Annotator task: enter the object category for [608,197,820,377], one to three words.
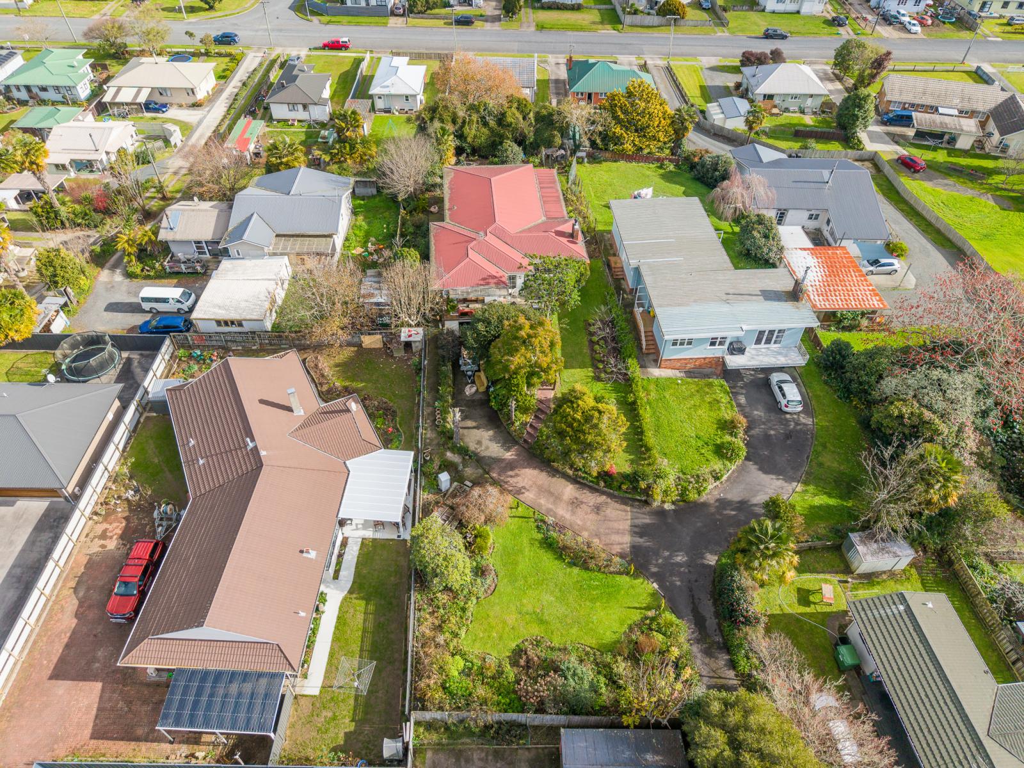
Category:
house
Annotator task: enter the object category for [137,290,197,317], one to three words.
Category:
vehicle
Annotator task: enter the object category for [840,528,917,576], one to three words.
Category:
shed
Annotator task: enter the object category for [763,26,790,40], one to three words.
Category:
car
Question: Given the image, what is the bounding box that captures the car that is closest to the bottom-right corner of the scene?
[765,374,804,413]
